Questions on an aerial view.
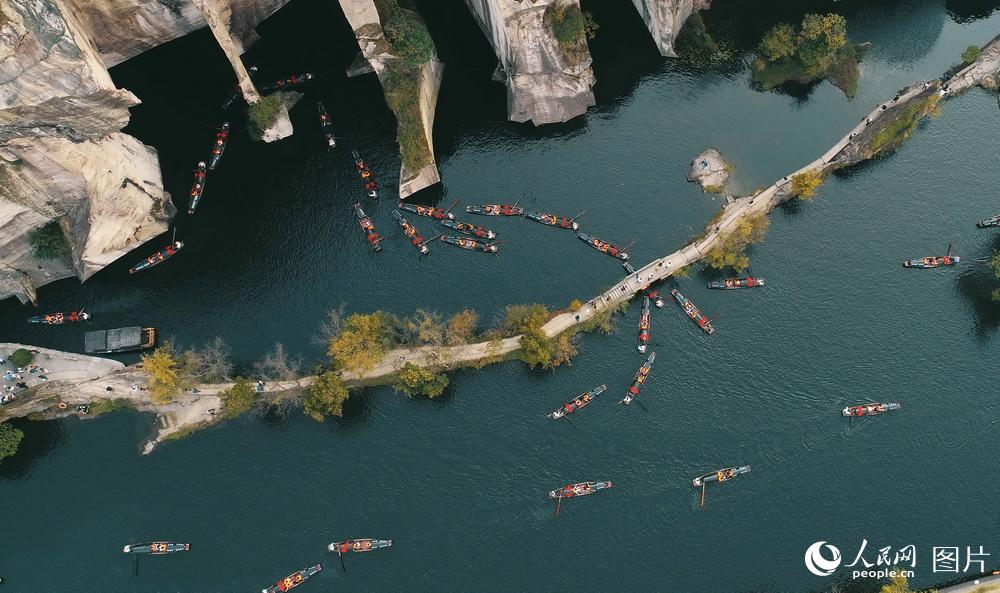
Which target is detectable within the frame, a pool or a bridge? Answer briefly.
bridge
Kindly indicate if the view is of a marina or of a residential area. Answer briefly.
marina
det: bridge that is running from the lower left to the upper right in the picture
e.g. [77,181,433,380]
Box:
[588,236,701,314]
